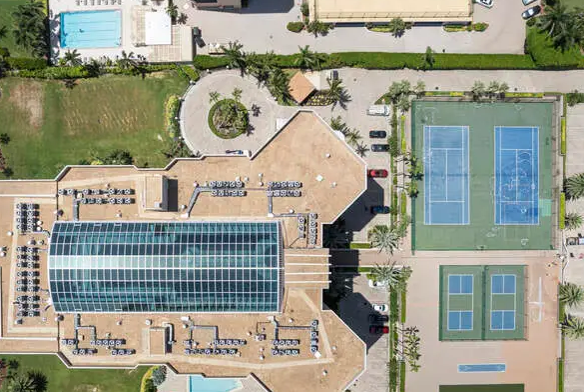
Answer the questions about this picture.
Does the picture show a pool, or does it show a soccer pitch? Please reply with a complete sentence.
There is a pool in the scene.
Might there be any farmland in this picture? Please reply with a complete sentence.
No, no farmland is visible.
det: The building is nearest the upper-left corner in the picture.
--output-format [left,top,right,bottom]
[145,12,172,48]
